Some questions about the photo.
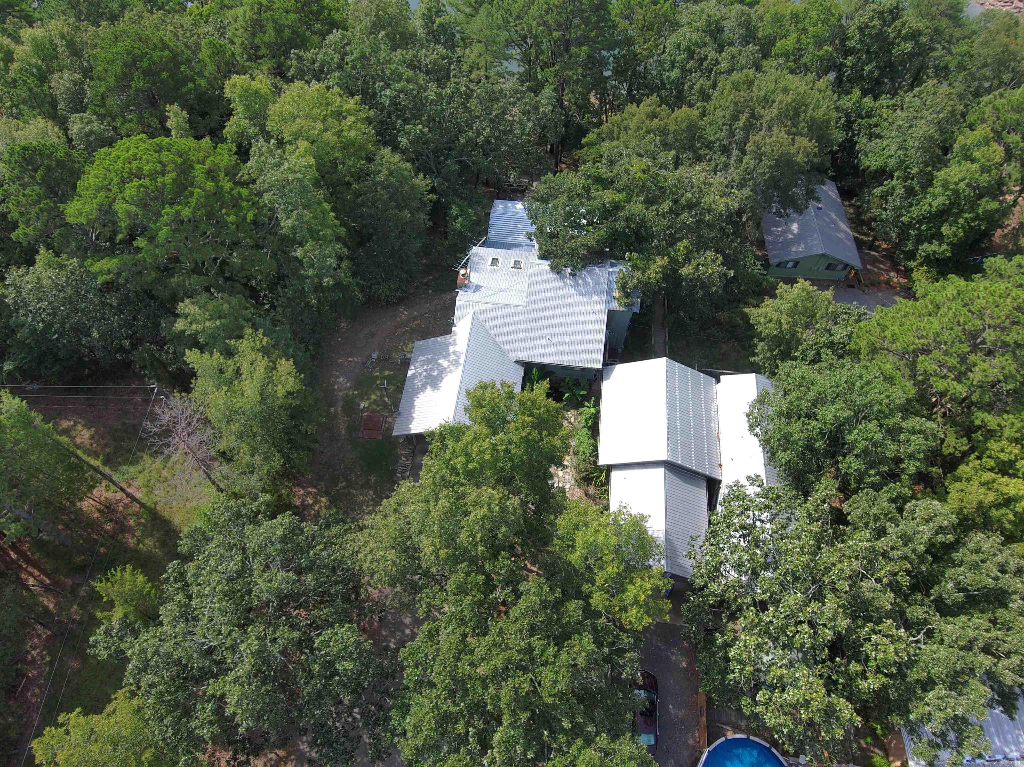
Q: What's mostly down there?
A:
trees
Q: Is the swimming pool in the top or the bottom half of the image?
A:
bottom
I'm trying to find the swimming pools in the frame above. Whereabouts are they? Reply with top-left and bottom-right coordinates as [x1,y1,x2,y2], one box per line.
[692,734,785,767]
